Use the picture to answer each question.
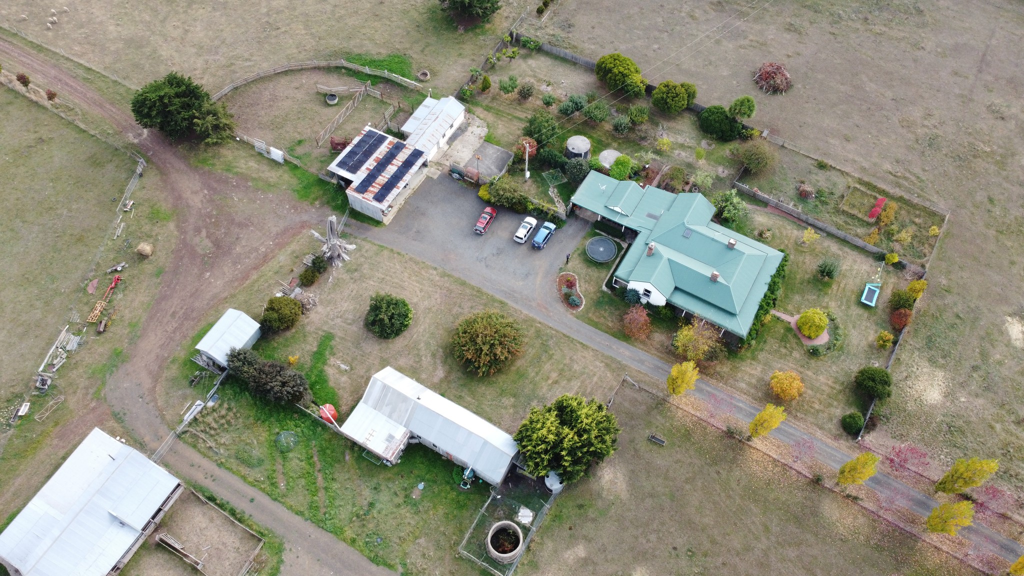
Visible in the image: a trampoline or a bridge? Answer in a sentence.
It is a trampoline that can be seen here.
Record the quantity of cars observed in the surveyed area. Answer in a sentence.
The picture shows 3 cars.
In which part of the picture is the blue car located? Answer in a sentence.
You can find the blue car in the center area of the picture.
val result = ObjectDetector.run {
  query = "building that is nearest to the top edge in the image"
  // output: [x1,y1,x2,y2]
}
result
[401,97,466,160]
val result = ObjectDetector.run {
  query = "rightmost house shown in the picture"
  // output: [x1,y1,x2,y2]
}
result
[570,169,784,345]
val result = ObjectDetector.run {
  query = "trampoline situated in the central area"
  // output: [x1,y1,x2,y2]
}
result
[586,235,618,265]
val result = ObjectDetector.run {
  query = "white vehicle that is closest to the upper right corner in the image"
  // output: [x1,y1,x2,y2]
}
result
[514,216,536,244]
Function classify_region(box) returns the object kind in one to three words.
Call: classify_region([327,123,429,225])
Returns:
shed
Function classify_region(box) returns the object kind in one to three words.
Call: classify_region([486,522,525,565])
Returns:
storage tank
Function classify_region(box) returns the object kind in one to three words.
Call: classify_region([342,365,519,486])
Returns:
shed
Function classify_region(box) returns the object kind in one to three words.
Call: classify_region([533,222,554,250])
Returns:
car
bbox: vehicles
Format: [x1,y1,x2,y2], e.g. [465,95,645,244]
[533,222,554,250]
[514,216,536,244]
[474,207,495,235]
